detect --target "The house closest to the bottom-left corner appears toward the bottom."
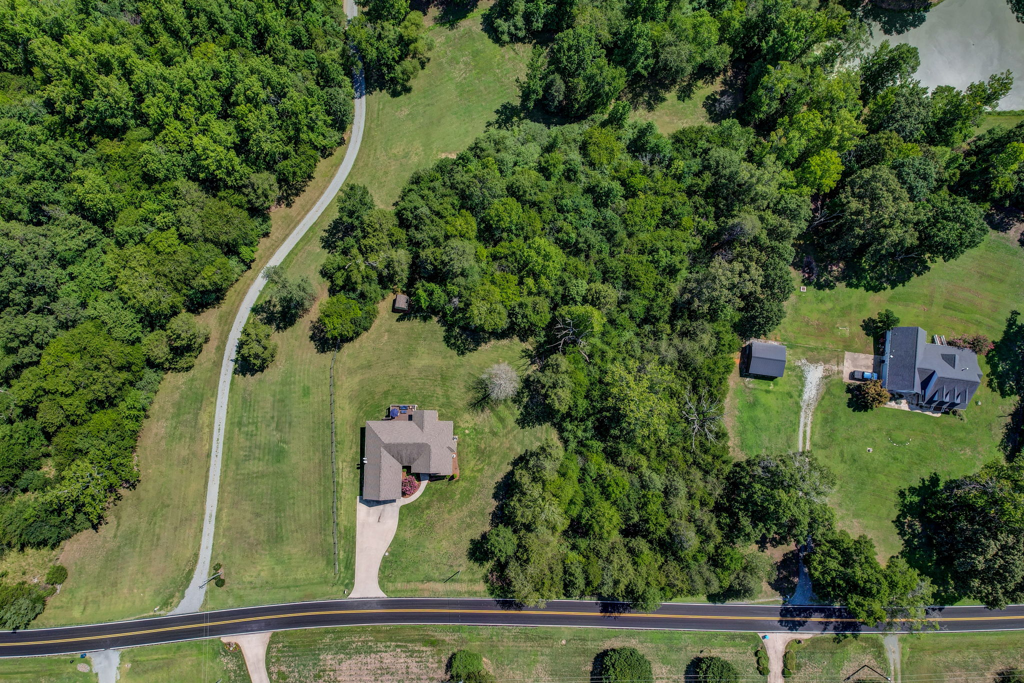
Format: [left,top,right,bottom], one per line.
[364,410,456,500]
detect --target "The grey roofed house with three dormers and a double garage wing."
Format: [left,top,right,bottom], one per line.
[881,327,983,410]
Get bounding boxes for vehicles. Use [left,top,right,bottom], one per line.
[851,370,878,382]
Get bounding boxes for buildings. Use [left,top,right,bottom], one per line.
[395,294,411,311]
[747,342,786,377]
[881,327,983,410]
[364,410,456,500]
